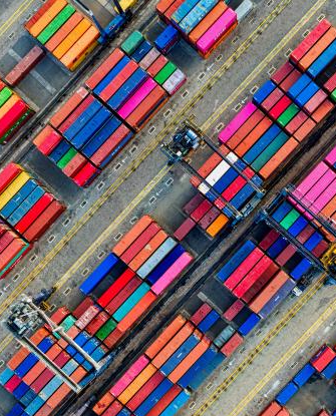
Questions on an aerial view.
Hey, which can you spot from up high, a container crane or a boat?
container crane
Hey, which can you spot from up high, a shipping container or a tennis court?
shipping container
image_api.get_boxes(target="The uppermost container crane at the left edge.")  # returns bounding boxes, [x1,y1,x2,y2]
[0,284,121,392]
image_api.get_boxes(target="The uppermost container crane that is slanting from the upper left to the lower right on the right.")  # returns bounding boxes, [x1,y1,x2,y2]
[163,120,265,225]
